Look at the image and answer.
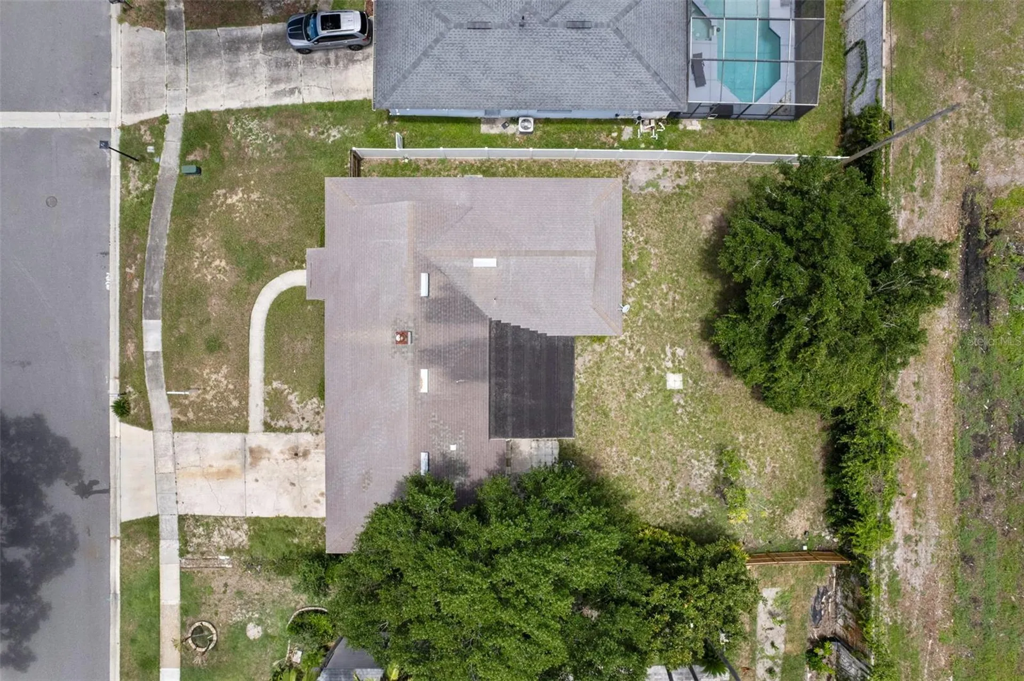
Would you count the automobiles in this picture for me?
1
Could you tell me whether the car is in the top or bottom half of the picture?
top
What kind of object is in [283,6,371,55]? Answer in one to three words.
car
